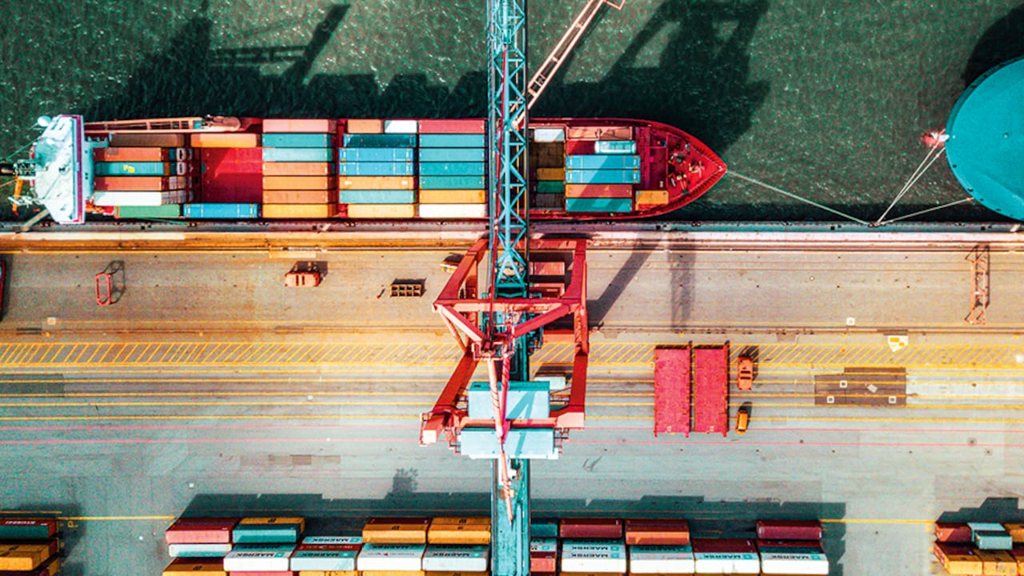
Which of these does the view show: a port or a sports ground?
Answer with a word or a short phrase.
port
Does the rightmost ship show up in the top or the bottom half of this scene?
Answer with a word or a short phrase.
top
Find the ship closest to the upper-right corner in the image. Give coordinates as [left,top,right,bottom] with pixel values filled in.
[927,58,1024,218]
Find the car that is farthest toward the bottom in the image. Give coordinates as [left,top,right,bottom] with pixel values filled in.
[735,405,749,432]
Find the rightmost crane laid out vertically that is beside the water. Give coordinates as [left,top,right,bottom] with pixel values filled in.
[418,0,600,576]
